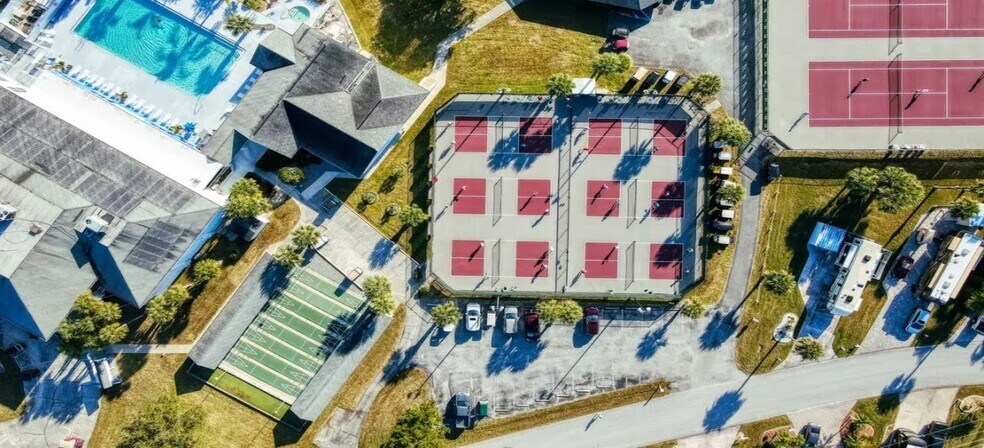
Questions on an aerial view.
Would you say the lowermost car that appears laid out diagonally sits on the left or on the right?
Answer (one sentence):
You can find the lowermost car that appears laid out diagonally on the right side of the picture.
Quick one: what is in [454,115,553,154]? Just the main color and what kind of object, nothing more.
red sports court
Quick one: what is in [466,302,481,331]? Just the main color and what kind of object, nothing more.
white car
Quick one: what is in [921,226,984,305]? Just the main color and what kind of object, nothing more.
white camper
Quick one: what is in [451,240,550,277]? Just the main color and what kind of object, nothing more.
red sports court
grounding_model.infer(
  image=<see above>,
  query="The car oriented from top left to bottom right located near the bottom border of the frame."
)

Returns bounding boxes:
[890,420,919,448]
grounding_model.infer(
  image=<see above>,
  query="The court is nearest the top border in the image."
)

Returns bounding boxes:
[809,0,984,45]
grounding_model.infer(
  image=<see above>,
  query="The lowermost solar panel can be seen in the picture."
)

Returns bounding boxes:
[125,219,188,271]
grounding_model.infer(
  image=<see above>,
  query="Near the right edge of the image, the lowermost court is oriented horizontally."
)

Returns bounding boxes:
[809,58,984,135]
